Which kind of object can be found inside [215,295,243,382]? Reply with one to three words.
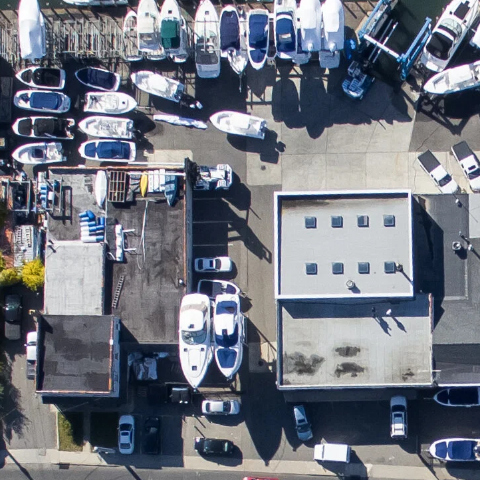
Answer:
boat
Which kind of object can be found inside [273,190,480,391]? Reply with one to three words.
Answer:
building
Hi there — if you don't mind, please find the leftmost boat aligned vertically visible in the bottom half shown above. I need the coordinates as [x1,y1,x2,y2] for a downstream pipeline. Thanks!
[182,296,215,390]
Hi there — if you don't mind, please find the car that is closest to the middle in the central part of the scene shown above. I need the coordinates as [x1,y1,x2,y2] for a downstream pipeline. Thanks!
[194,255,233,274]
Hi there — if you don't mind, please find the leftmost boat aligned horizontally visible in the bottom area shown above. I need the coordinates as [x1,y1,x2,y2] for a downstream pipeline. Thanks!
[198,279,239,299]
